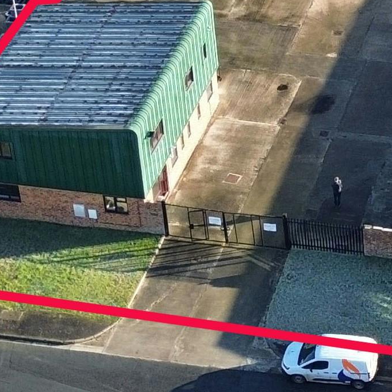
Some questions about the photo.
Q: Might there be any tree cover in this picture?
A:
No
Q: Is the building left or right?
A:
left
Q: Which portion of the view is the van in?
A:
bottom right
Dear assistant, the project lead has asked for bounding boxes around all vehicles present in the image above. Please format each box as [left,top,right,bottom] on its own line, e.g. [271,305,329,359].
[283,334,383,392]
